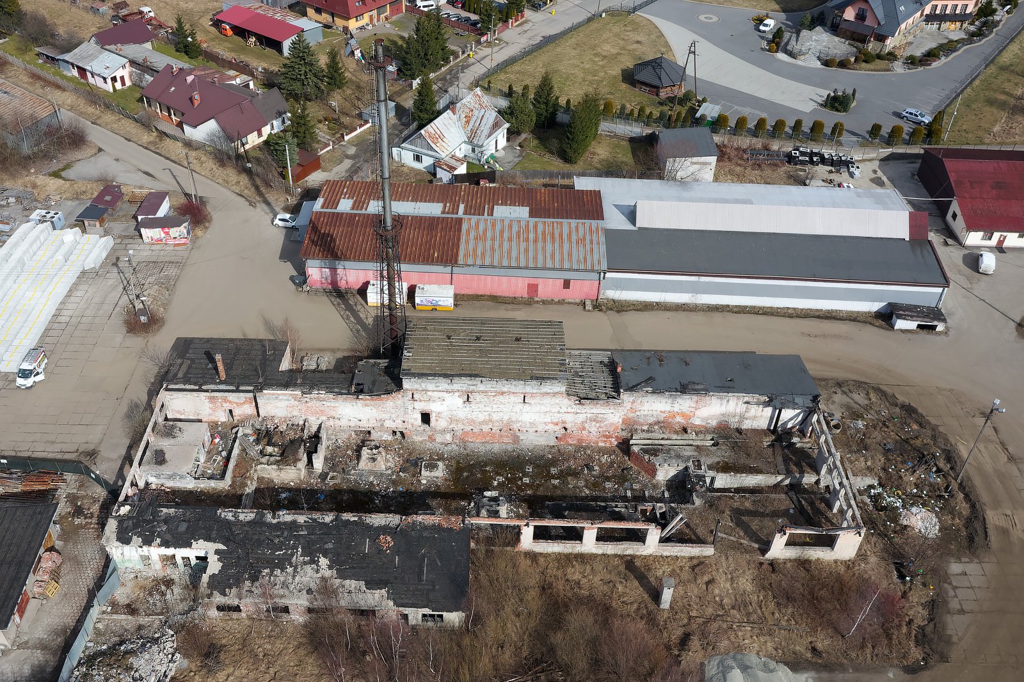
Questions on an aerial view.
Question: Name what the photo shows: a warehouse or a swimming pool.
warehouse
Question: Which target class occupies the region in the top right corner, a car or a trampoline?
car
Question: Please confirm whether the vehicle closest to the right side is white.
Yes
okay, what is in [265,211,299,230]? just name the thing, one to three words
car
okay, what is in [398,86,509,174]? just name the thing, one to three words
house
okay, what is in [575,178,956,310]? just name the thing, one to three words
warehouse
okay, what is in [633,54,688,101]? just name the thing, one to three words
gazebo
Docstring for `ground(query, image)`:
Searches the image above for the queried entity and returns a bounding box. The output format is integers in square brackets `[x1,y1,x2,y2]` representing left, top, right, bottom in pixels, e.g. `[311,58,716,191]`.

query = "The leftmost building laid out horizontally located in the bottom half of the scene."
[96,316,879,631]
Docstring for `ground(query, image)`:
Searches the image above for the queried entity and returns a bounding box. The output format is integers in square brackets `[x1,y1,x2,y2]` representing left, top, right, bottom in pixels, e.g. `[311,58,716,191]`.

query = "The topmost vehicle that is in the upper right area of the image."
[758,16,777,33]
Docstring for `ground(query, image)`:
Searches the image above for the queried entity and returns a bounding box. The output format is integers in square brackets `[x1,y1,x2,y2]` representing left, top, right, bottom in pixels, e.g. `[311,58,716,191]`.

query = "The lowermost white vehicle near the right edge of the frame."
[978,244,1000,270]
